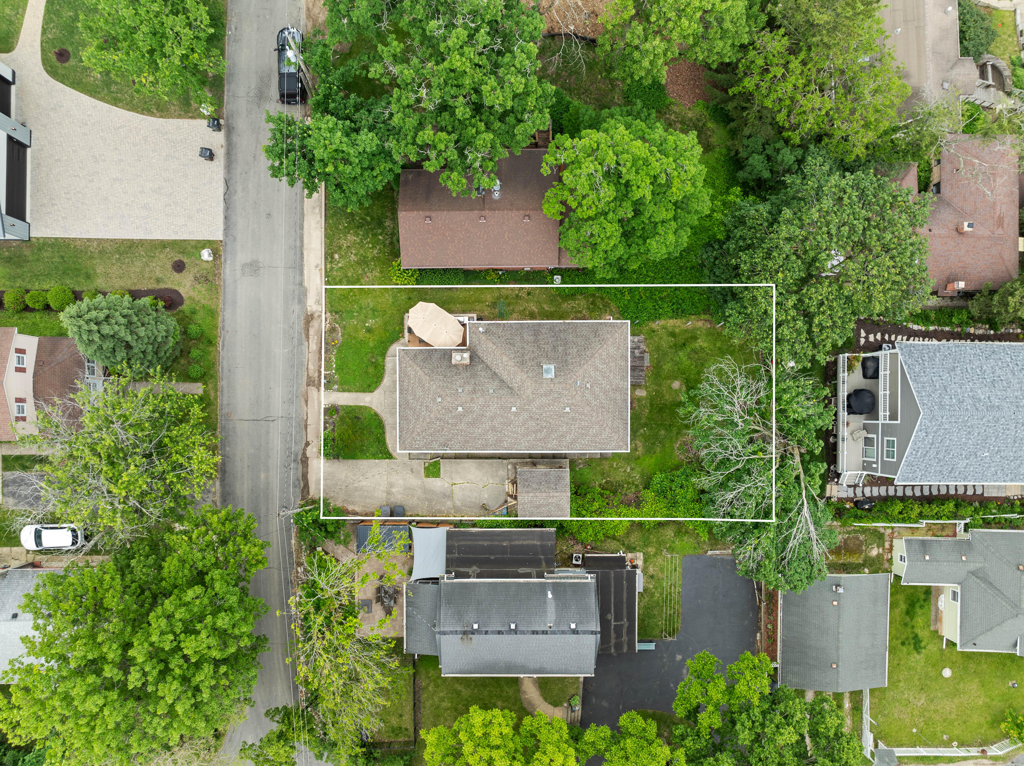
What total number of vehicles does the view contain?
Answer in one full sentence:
My tally gives 2 vehicles in this view.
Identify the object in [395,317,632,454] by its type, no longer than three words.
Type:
house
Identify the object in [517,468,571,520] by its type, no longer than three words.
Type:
shed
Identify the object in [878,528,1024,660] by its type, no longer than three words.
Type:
building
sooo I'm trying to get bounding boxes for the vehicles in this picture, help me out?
[24,521,86,553]
[272,29,308,108]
